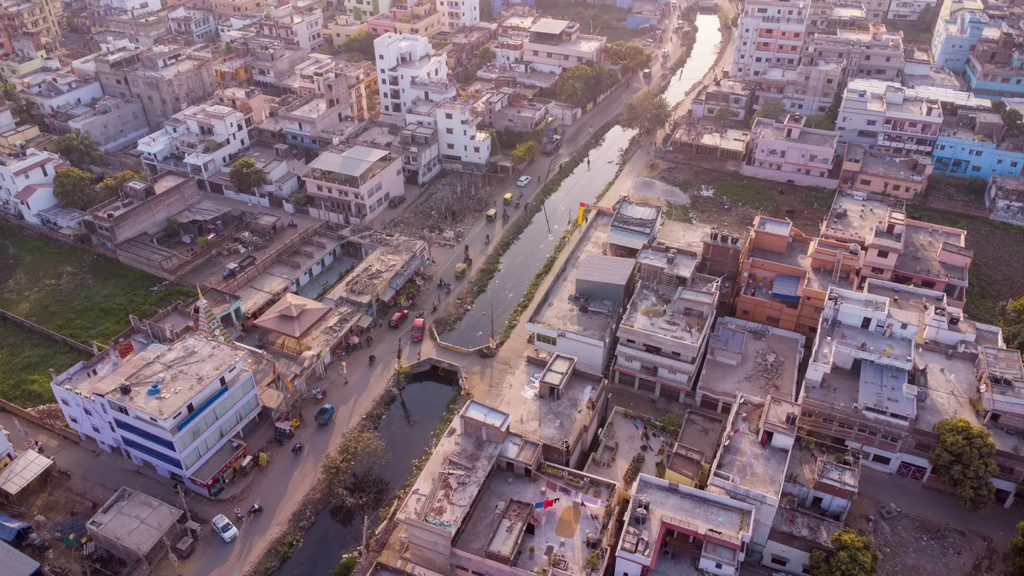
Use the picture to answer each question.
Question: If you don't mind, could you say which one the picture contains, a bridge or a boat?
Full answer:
It is a bridge that can be seen here.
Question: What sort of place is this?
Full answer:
This looks like a residential area.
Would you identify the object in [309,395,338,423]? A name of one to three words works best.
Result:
truck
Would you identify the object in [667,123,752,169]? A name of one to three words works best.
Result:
building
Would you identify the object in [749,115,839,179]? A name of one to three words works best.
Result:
house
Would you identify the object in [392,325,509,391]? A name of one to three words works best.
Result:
bridge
